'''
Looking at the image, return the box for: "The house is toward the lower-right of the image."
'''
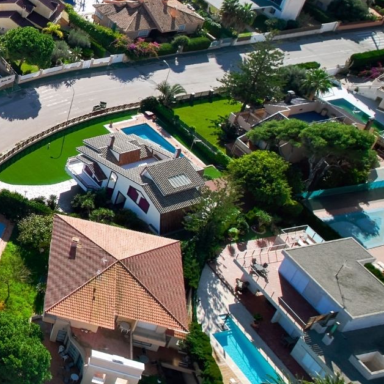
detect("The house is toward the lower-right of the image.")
[228,236,384,384]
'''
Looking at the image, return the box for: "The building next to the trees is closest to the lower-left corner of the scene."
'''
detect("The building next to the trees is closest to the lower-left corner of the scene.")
[44,212,190,384]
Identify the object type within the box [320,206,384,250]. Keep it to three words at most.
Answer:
swimming pool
